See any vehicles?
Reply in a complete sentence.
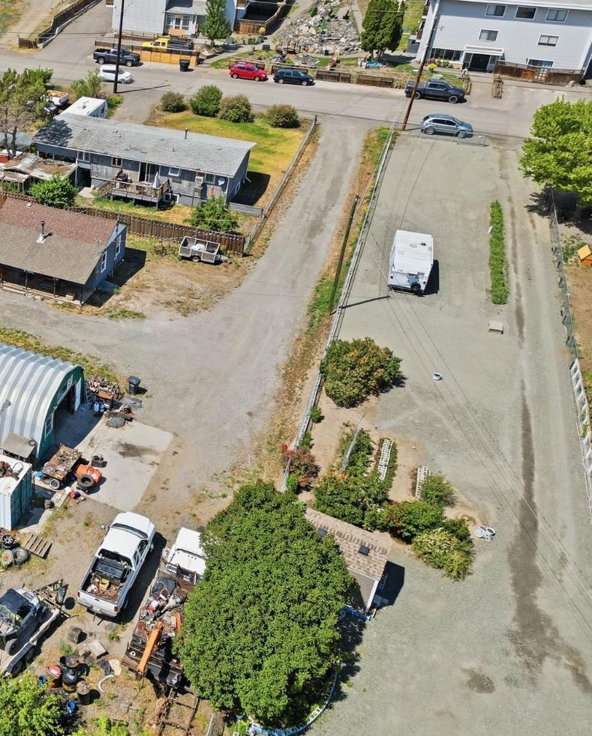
Yes, the picture does show a vehicle.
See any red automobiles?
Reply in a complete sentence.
Yes, the photo shows a red automobile.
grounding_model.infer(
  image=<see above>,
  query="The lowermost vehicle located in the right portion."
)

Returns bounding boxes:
[387,237,430,299]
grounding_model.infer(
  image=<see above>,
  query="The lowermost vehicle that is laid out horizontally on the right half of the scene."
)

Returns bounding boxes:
[421,115,470,138]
